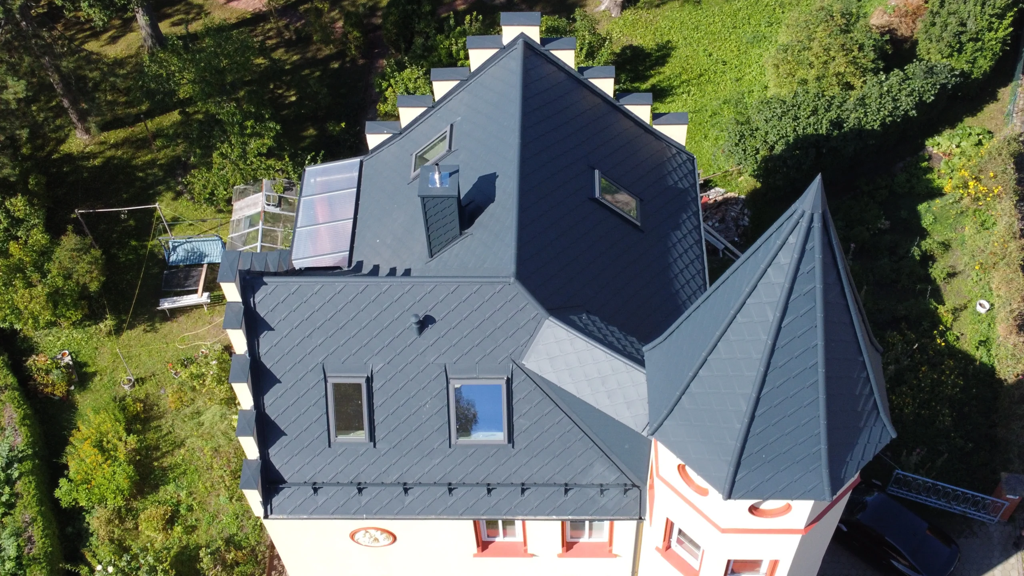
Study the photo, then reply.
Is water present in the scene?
No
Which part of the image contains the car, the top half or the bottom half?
bottom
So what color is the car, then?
black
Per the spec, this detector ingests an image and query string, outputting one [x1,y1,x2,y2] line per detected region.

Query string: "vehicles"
[827,484,988,576]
